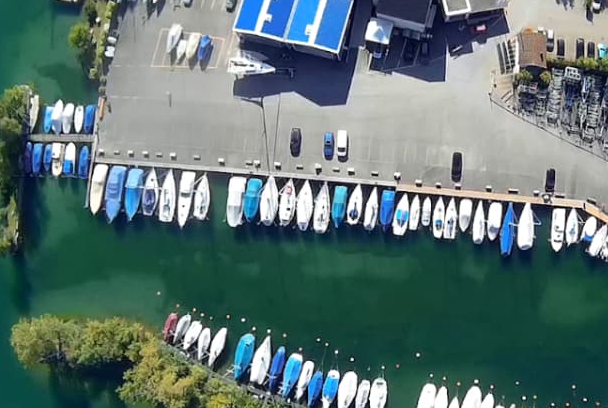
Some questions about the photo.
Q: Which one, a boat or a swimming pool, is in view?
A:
boat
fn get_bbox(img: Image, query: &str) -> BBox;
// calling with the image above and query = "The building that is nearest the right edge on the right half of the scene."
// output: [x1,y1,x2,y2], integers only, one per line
[518,31,547,70]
